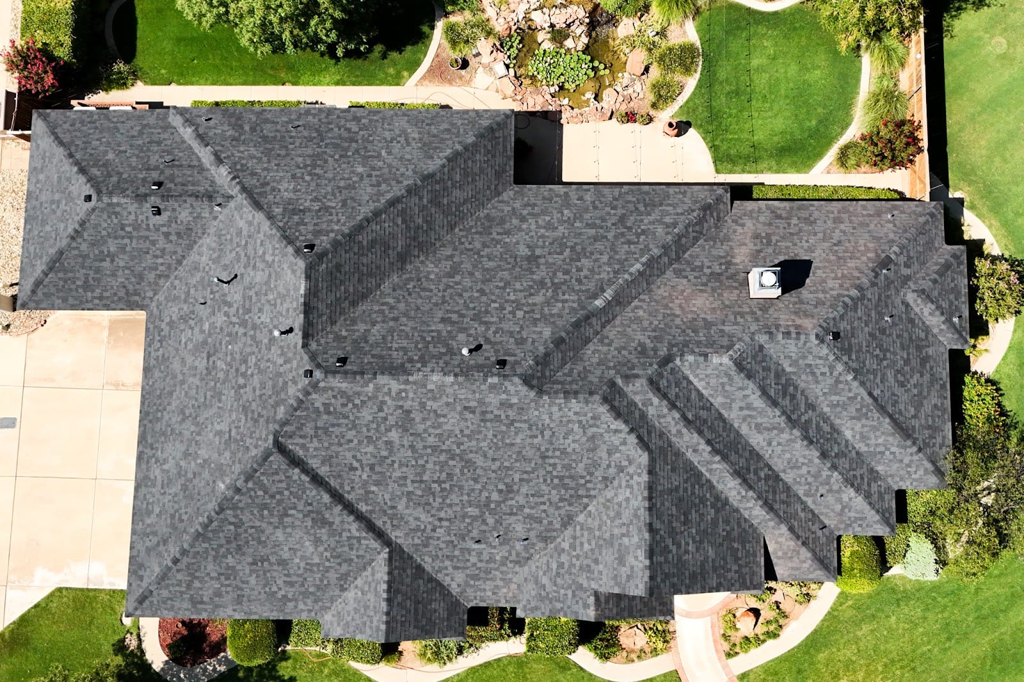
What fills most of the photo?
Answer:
buildings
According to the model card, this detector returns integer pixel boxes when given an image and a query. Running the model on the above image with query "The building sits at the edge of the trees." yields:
[17,106,969,647]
